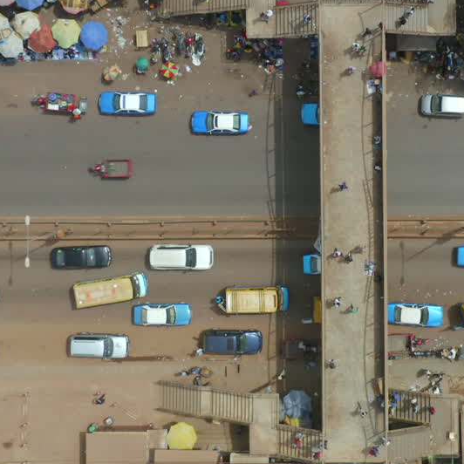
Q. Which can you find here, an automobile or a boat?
automobile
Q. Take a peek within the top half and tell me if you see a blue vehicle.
Yes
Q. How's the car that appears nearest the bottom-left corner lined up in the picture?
from side to side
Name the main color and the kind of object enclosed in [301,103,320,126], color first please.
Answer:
blue car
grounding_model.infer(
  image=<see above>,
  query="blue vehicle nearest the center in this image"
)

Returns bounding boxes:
[302,253,320,276]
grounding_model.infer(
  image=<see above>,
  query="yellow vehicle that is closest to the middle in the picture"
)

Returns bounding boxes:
[220,285,289,316]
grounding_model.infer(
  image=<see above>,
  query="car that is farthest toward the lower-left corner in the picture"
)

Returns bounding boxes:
[65,331,130,362]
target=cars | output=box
[131,301,192,329]
[202,328,262,358]
[301,103,320,126]
[302,253,320,276]
[454,245,464,268]
[50,243,112,271]
[65,331,130,362]
[386,302,445,330]
[191,109,251,137]
[418,91,464,119]
[97,88,158,118]
[148,243,213,273]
